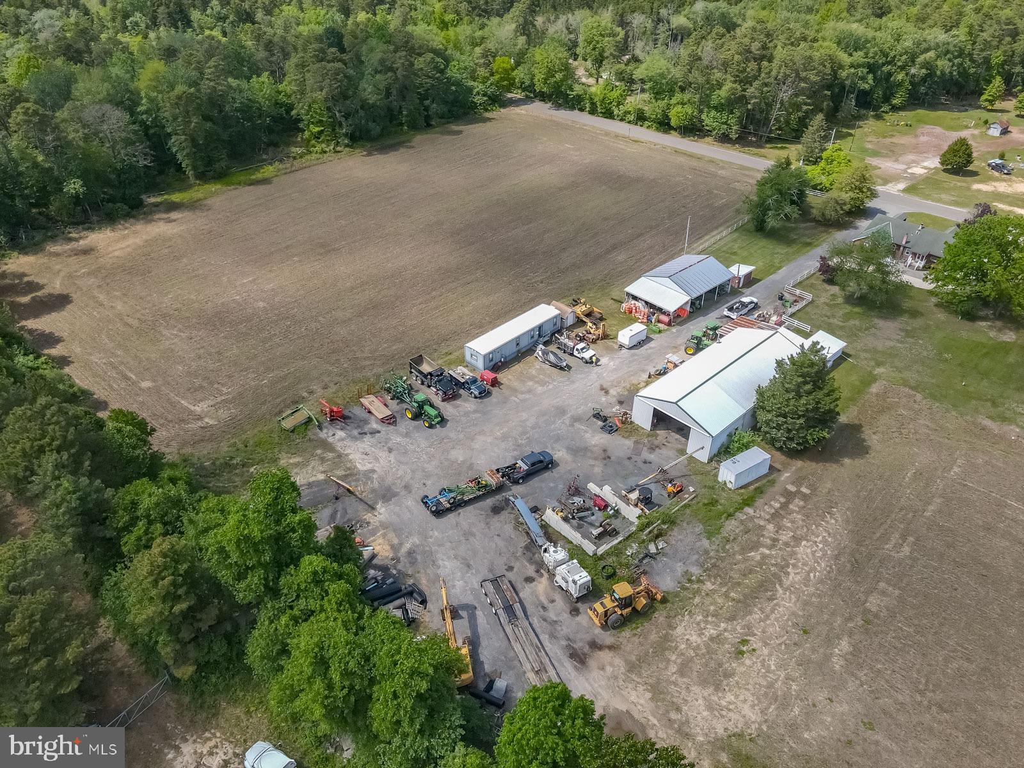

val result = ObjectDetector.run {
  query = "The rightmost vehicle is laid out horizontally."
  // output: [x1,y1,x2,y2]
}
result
[986,162,1015,175]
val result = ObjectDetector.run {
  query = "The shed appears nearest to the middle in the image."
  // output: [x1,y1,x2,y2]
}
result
[547,300,578,328]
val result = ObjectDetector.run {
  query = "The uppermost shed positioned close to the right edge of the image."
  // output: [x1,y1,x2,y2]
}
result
[986,120,1015,135]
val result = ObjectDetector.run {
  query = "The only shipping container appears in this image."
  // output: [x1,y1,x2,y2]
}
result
[718,446,771,491]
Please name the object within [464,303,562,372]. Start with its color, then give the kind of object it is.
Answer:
white trailer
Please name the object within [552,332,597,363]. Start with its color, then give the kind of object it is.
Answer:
white truck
